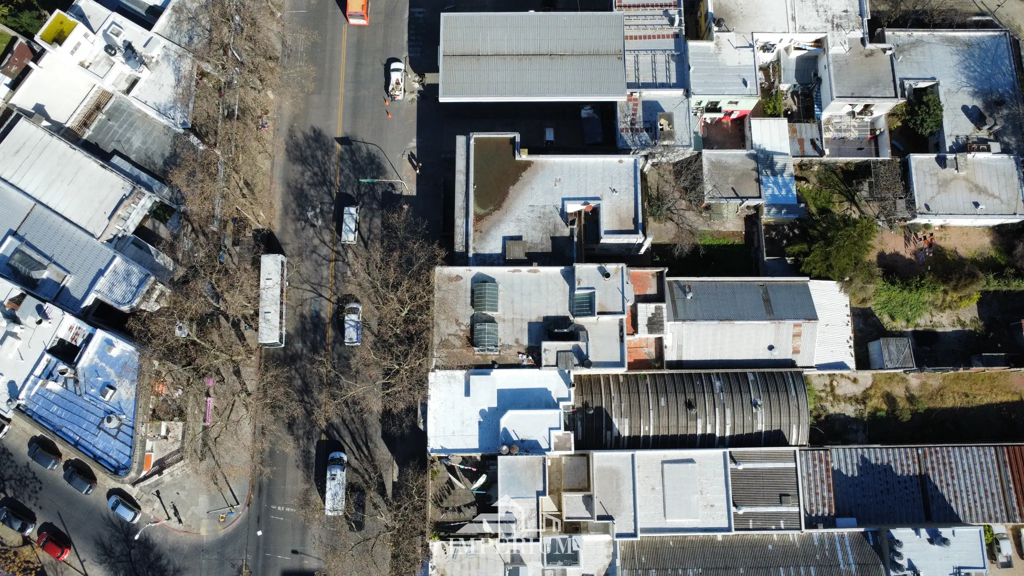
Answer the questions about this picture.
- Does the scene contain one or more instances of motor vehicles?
Yes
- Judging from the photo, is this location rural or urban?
urban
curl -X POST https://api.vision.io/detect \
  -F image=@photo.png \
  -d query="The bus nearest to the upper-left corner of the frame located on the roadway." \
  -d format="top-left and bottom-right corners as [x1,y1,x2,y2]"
[346,0,371,25]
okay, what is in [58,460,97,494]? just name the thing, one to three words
car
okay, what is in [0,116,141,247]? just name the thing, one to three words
building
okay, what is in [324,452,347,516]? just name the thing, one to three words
vehicle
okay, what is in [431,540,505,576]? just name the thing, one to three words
house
